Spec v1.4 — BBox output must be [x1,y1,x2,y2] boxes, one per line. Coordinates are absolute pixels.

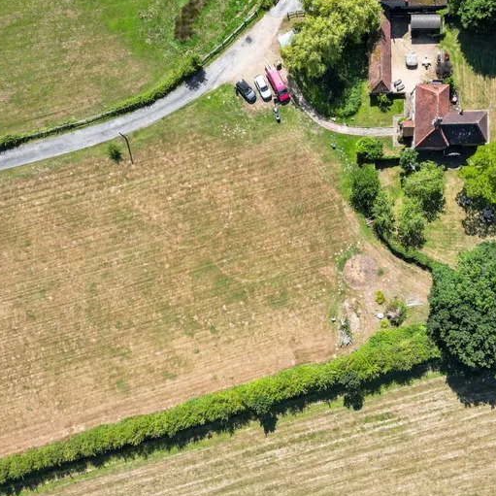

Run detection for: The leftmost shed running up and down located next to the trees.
[368,7,392,92]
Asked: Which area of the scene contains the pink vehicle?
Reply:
top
